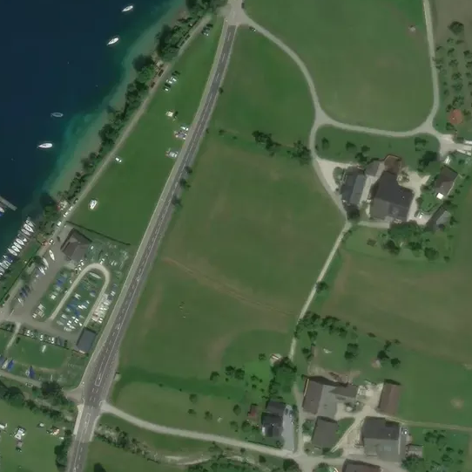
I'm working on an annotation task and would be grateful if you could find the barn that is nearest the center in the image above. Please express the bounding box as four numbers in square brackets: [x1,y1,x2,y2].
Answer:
[341,172,366,204]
